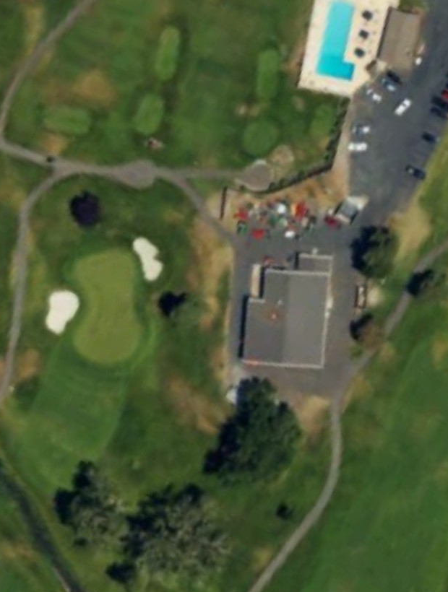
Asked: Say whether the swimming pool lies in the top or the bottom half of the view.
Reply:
top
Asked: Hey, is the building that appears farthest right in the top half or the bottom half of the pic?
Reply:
top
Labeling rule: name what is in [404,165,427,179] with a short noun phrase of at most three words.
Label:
vehicle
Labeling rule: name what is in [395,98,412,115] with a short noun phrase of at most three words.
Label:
car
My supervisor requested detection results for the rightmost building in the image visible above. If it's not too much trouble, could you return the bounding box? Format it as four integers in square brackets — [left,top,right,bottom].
[379,9,422,77]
